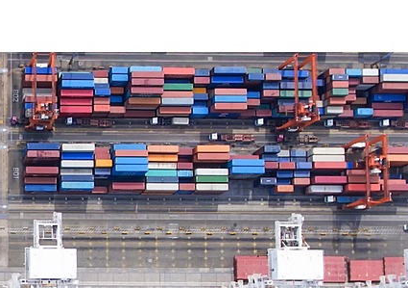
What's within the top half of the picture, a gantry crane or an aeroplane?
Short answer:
gantry crane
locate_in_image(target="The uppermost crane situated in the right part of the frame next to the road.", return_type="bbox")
[269,54,321,134]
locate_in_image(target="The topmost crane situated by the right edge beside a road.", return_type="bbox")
[336,136,390,208]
